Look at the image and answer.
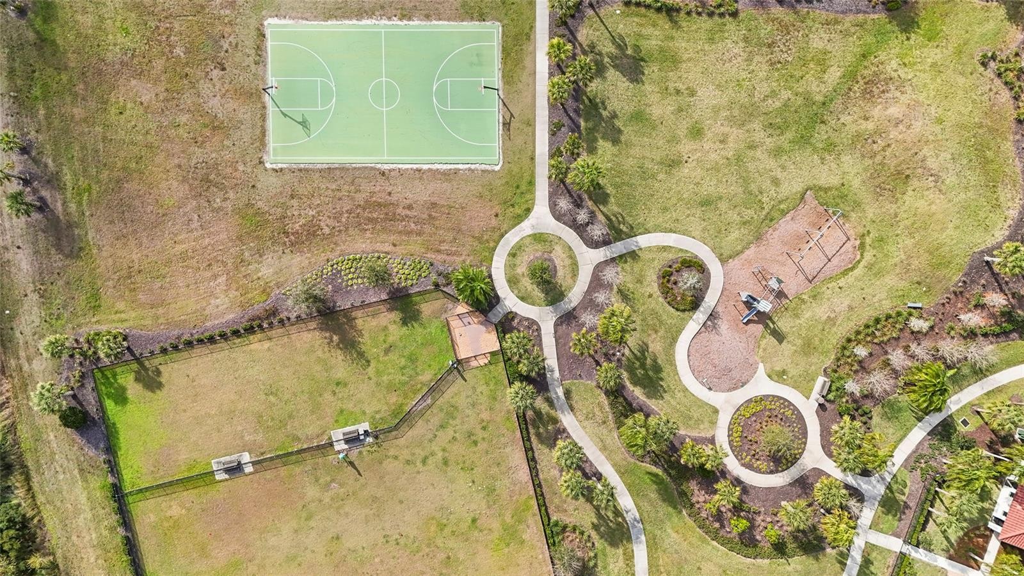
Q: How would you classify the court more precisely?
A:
basketball court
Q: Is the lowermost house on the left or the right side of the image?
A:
right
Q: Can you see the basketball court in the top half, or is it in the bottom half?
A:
top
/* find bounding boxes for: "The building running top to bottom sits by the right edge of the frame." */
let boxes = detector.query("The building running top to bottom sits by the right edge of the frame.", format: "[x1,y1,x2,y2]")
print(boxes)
[988,467,1024,548]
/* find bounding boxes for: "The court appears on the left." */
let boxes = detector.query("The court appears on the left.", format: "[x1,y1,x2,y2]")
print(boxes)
[264,20,503,169]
